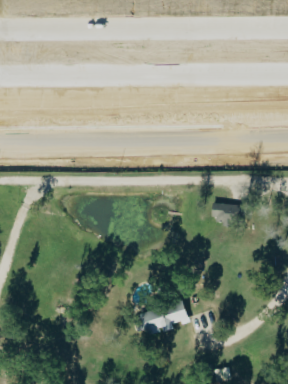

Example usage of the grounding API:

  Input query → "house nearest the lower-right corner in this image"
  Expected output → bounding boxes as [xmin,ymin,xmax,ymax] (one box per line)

[144,301,190,331]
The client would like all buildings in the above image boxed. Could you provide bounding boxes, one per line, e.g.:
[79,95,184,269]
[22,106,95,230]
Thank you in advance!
[212,201,240,230]
[144,301,190,331]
